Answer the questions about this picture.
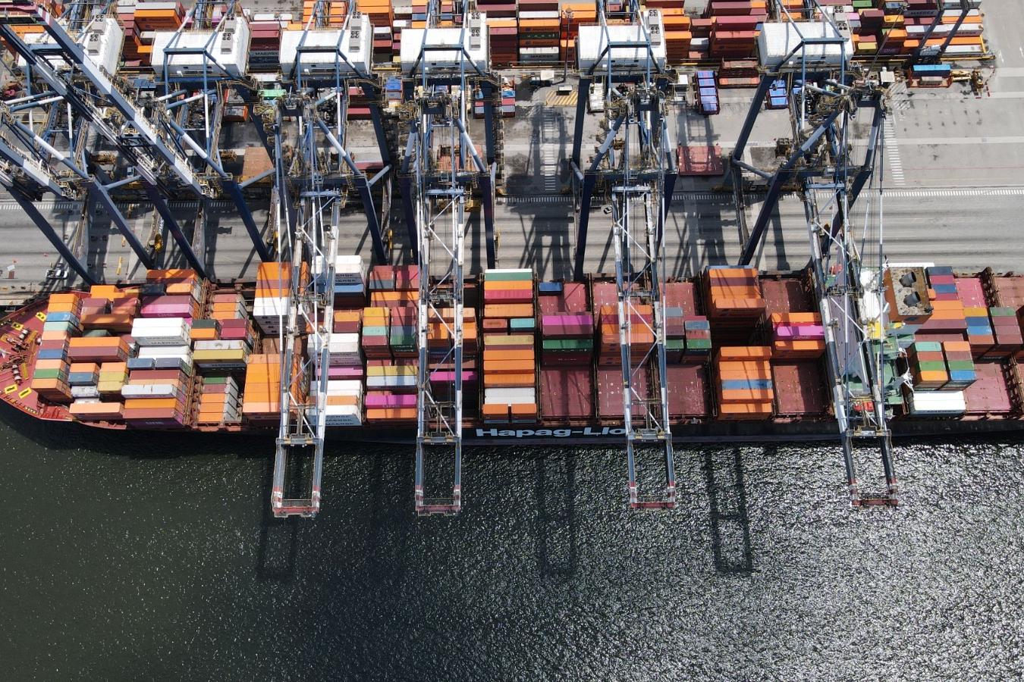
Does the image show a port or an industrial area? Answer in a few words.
port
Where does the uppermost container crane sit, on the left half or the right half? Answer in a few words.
right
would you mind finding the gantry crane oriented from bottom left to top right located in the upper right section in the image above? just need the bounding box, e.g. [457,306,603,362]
[909,0,985,66]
